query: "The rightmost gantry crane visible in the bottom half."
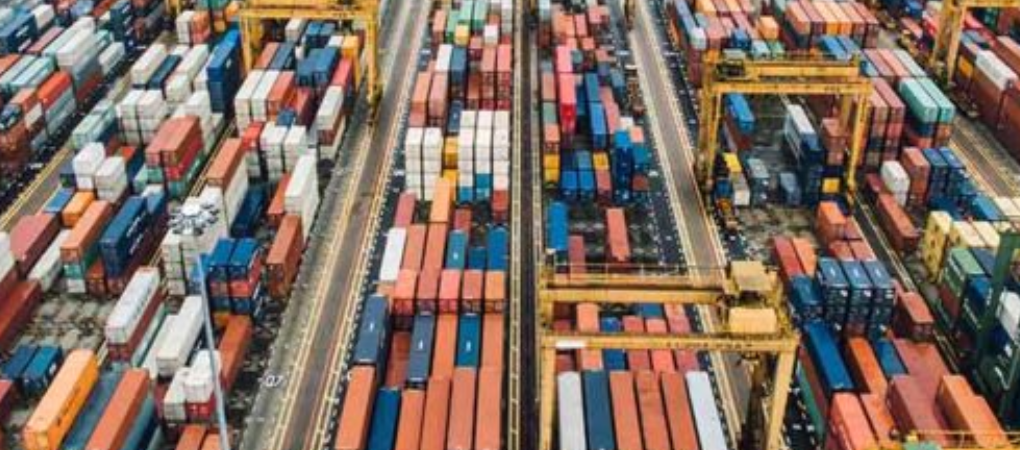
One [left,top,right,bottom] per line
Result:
[968,221,1020,420]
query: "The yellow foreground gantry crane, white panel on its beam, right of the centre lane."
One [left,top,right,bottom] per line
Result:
[535,262,793,450]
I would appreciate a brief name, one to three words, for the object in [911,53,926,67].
vehicle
